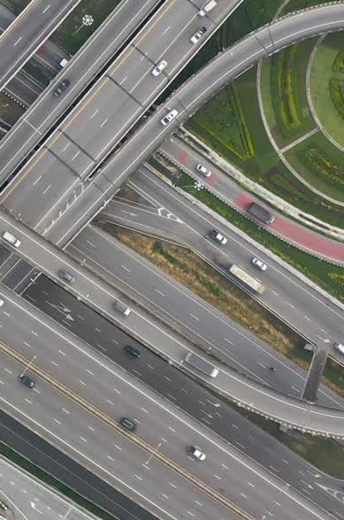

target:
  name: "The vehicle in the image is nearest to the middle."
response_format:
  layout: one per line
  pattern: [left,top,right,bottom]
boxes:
[207,229,226,243]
